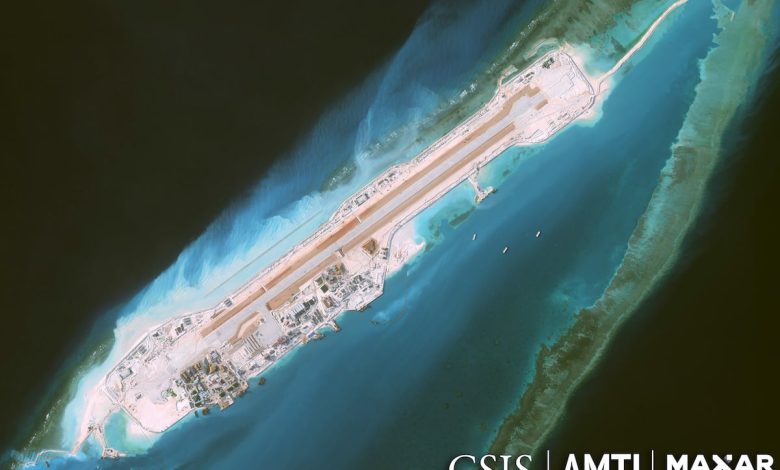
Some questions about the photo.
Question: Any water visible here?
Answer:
Yes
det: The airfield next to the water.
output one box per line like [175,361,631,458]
[189,85,548,359]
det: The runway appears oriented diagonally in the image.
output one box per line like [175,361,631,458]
[189,112,519,353]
